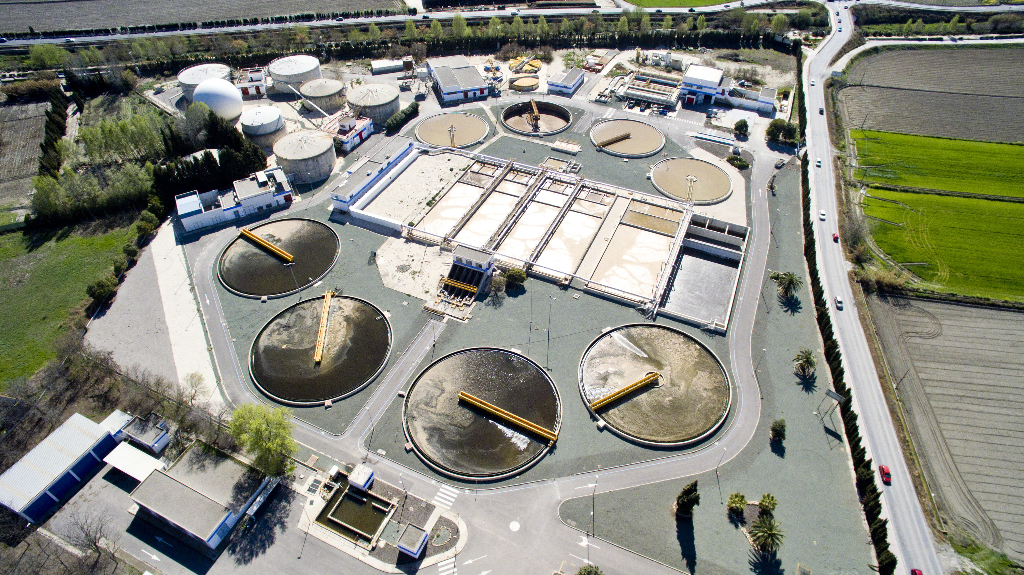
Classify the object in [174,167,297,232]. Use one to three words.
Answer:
building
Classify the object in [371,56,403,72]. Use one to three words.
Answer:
shed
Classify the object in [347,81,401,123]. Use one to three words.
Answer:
storage tank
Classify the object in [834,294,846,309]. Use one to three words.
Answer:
vehicle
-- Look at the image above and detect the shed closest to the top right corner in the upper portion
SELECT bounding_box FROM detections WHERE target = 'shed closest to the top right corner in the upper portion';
[754,89,777,112]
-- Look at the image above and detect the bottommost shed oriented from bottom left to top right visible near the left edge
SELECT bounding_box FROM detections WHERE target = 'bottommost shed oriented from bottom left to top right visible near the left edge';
[0,412,119,524]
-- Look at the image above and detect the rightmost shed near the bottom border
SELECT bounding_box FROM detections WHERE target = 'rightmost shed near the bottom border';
[397,523,430,559]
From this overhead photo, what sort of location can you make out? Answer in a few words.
industrial area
